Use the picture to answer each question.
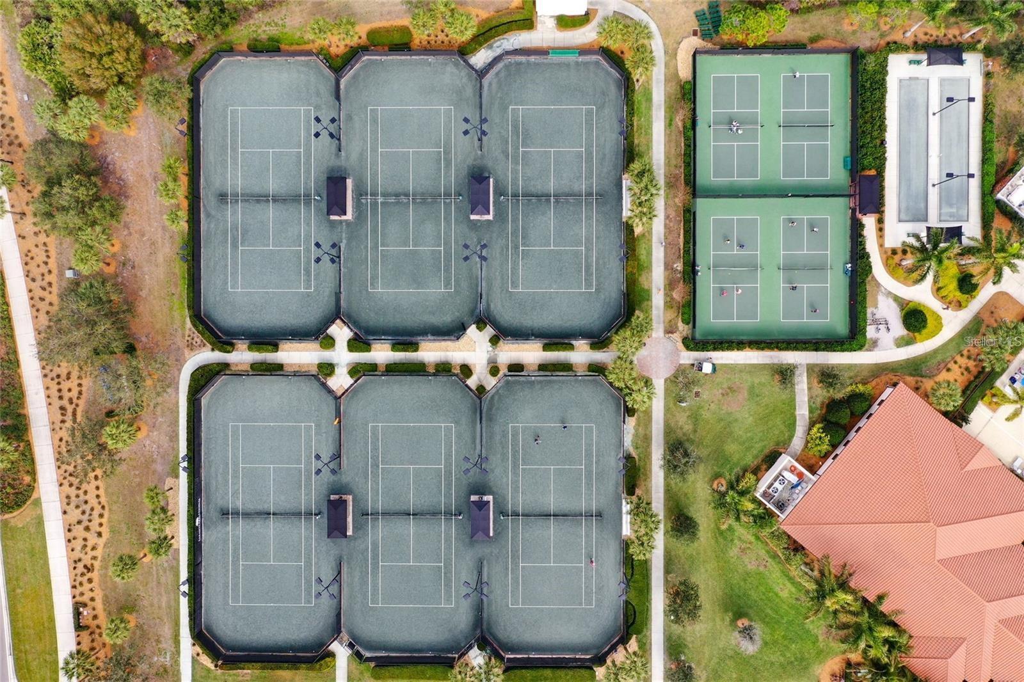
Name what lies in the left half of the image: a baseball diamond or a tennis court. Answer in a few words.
tennis court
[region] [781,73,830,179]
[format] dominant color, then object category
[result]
gray sports court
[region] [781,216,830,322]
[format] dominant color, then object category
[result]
gray sports court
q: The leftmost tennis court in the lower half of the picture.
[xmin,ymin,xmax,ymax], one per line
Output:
[203,376,341,653]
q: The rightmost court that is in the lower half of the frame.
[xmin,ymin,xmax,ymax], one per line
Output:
[481,377,623,655]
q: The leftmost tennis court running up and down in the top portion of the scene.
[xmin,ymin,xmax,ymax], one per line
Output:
[202,59,339,338]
